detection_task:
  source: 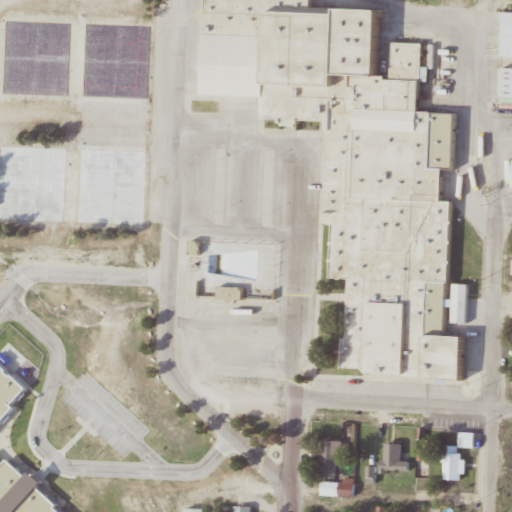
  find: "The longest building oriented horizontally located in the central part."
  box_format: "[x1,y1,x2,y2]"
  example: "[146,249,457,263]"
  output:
[194,278,274,302]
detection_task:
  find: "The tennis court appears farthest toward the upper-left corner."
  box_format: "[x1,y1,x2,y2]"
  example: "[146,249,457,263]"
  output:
[4,22,71,96]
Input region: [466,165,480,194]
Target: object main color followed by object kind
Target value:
white vehicle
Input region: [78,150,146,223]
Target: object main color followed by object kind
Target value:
white sports court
